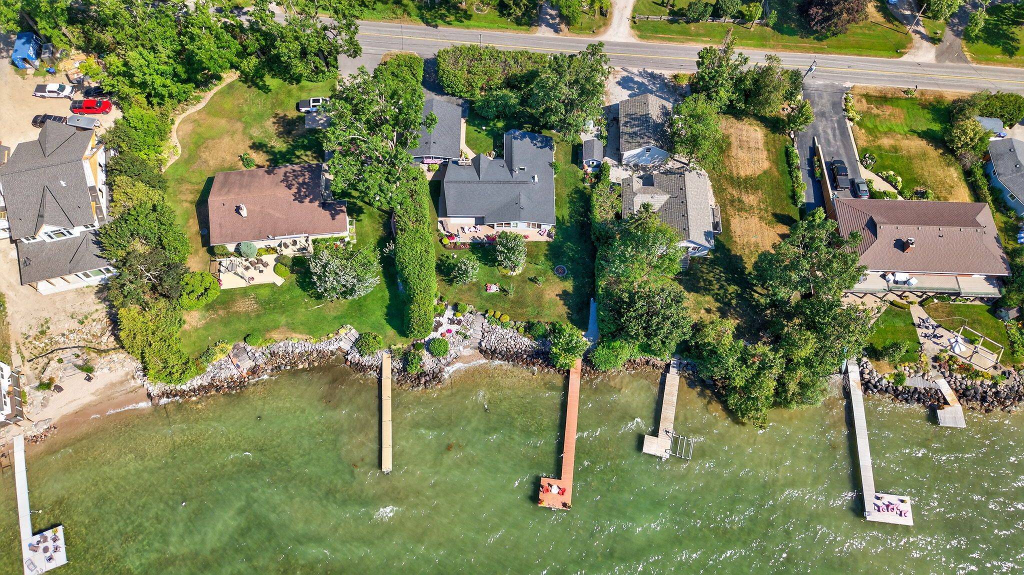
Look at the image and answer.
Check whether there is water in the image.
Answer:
Yes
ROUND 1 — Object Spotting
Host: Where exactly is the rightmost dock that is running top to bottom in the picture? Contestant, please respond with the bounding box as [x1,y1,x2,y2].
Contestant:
[846,364,914,526]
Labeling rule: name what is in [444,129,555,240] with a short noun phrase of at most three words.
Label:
house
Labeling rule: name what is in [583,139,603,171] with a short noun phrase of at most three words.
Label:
shed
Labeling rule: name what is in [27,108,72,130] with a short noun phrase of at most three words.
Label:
truck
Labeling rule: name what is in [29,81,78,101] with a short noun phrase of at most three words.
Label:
vehicle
